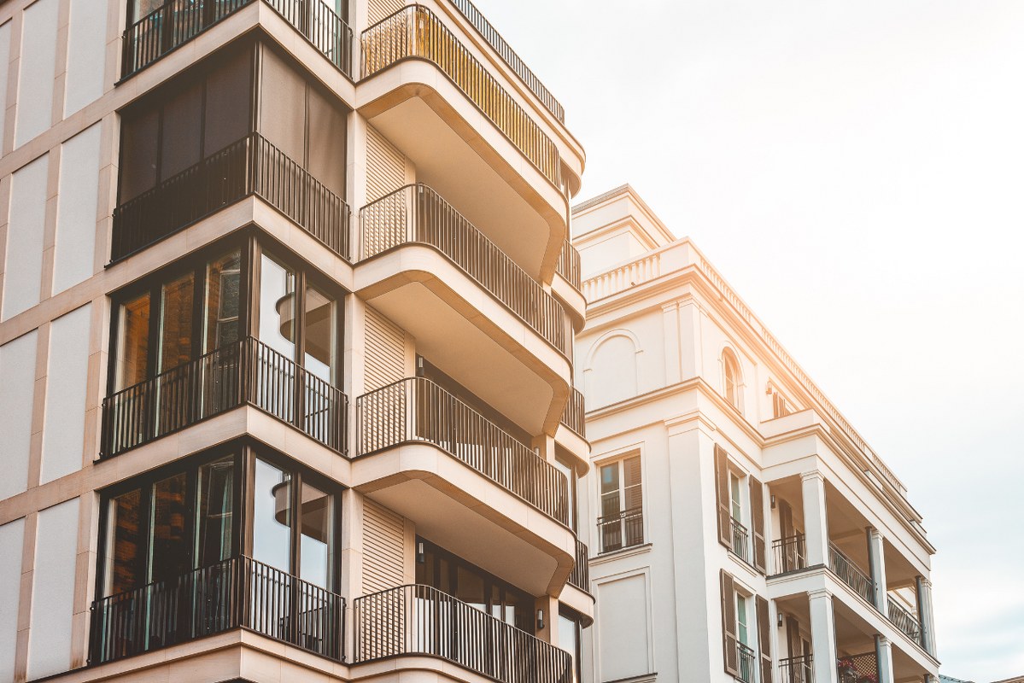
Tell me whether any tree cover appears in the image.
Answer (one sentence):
No, no tree cover is visible.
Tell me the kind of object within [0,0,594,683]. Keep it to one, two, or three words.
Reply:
building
